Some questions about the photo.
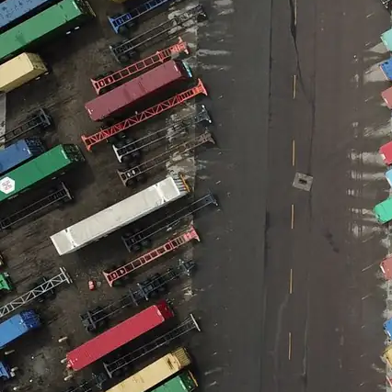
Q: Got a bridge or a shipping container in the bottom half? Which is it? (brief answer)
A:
shipping container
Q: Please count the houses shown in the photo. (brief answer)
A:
0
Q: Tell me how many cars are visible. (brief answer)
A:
0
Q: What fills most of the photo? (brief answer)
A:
paved ground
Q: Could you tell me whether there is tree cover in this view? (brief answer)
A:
No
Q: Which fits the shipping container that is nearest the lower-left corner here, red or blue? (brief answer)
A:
blue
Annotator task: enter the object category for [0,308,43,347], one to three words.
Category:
shipping container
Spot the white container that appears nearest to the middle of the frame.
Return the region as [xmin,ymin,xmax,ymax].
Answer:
[51,175,190,255]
